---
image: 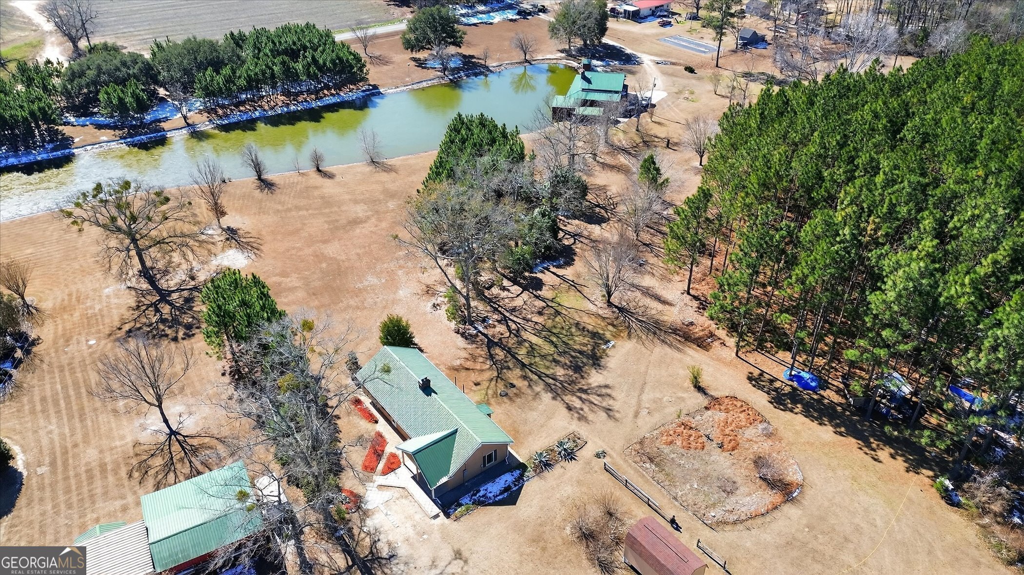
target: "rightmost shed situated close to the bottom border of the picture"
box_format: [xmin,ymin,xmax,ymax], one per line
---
[625,518,712,575]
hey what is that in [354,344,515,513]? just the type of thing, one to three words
house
